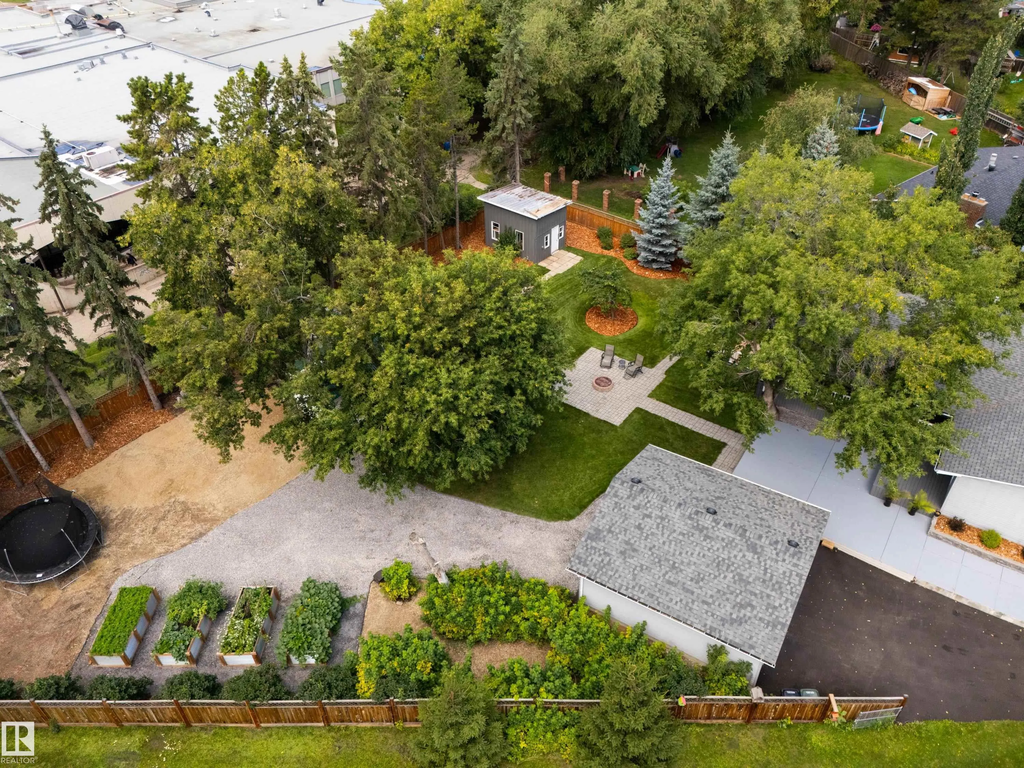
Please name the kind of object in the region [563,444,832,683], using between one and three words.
building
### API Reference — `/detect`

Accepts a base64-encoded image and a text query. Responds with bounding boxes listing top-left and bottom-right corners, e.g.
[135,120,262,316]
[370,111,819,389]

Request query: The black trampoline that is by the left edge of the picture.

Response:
[0,476,107,593]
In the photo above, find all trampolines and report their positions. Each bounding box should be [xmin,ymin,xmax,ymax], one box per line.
[0,476,107,593]
[840,99,889,134]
